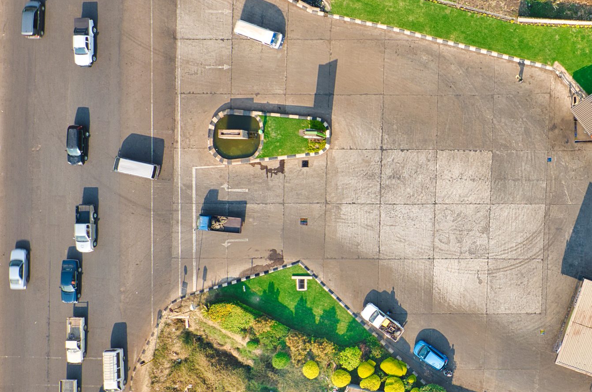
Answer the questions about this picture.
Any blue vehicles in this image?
Yes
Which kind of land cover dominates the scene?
paved ground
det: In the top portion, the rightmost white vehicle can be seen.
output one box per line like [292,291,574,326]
[233,19,284,48]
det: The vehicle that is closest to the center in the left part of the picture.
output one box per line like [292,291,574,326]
[197,210,246,231]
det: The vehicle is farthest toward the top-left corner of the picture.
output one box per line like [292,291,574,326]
[22,0,47,40]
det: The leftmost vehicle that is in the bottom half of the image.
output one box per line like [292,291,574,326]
[9,249,33,291]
